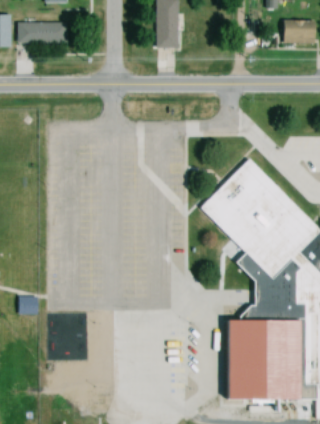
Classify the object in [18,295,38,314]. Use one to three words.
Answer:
shed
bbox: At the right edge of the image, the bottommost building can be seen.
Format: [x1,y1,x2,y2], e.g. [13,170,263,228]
[202,158,320,420]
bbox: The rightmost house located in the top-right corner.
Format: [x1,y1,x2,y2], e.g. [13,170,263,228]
[284,18,318,48]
